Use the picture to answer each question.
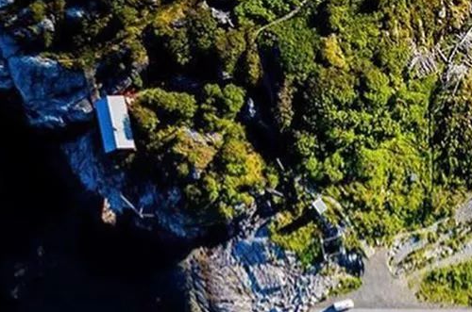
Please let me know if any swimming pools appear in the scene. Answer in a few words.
No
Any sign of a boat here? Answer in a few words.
No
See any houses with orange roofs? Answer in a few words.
No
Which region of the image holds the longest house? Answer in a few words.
left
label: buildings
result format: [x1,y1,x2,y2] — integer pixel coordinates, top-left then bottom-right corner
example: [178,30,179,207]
[95,97,135,160]
[312,197,327,216]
